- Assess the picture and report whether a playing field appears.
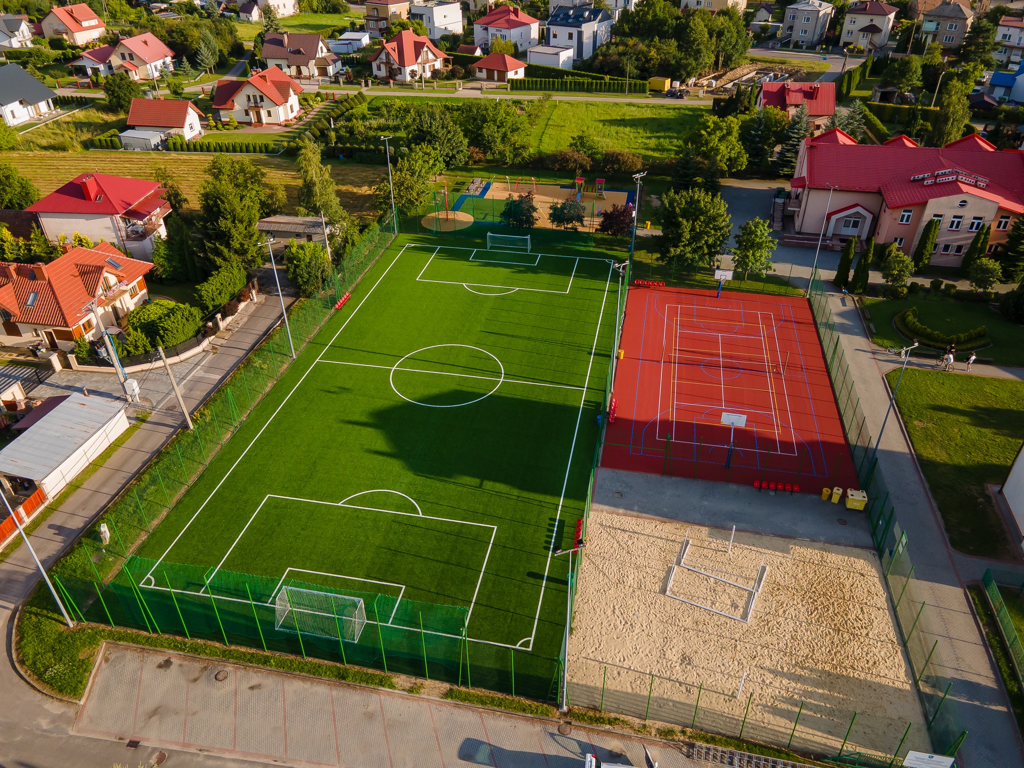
Yes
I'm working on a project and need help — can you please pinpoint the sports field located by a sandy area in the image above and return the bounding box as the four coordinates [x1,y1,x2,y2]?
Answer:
[76,233,629,702]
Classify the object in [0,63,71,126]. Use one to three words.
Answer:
house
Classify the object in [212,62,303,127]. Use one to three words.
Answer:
house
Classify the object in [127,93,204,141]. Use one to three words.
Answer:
shed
